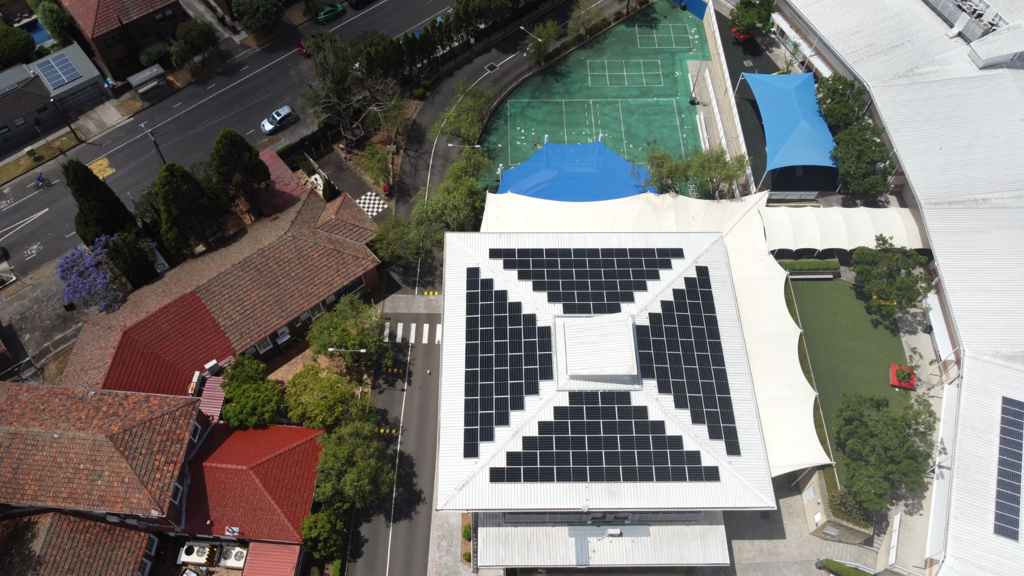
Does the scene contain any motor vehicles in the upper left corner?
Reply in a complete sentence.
Yes, in the upper left corner there is a motor vehicle.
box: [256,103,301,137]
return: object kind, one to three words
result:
car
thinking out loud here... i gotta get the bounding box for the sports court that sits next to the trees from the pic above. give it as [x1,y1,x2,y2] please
[470,0,712,207]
